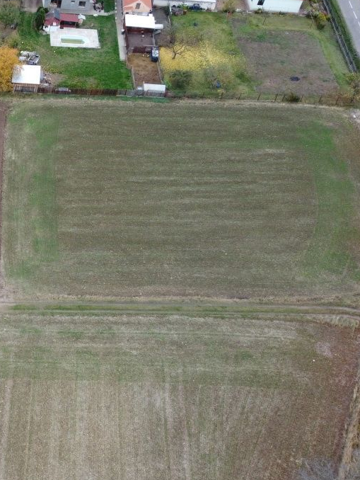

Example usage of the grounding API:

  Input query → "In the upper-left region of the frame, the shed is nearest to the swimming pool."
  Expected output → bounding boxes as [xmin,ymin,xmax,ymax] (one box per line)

[44,12,80,34]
